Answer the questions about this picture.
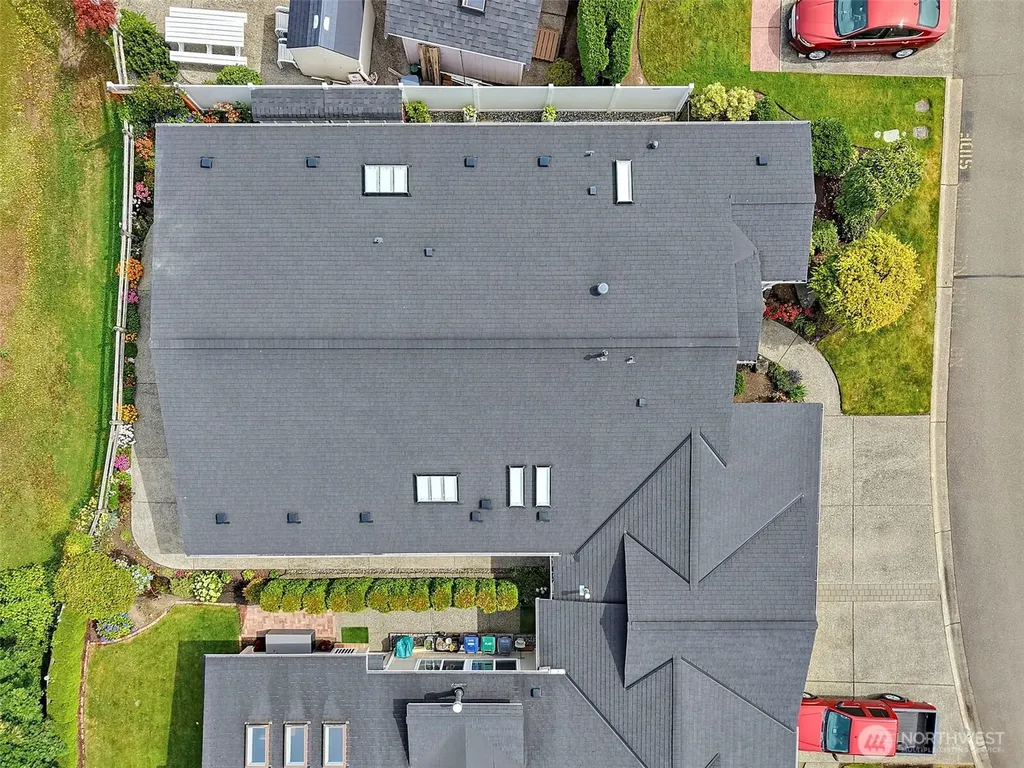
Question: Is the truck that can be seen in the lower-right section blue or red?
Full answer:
The truck that can be seen in the lower-right section is red.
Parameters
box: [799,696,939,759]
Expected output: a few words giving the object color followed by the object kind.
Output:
red truck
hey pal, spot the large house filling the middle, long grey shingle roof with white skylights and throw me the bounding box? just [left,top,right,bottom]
[149,119,824,627]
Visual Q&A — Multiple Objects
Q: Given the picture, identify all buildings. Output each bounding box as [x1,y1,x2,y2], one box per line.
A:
[386,0,539,86]
[149,119,824,627]
[287,0,370,86]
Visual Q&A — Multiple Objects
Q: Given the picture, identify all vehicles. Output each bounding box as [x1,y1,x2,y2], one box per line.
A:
[783,0,952,59]
[799,696,939,759]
